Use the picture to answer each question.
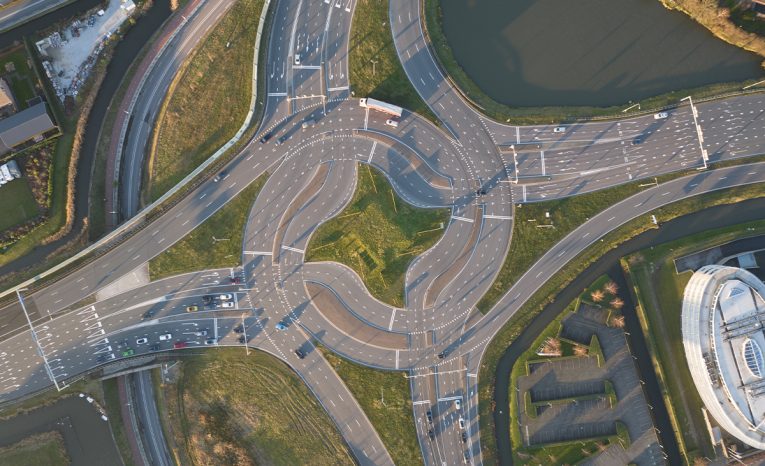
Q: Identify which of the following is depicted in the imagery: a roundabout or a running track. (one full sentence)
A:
Of the two, only a roundabout appears.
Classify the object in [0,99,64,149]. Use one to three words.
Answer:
barn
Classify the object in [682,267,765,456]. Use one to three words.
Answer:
building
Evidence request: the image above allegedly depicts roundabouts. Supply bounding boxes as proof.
[229,92,532,380]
